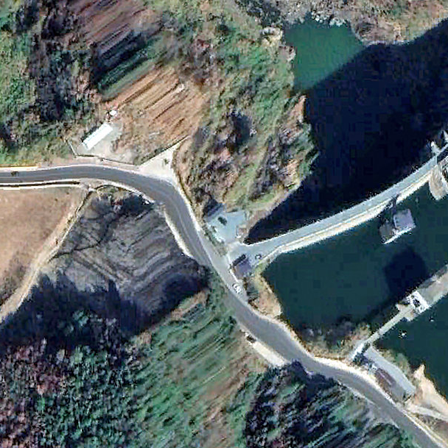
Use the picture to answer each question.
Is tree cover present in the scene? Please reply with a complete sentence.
Yes, the picture does contain tree cover.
